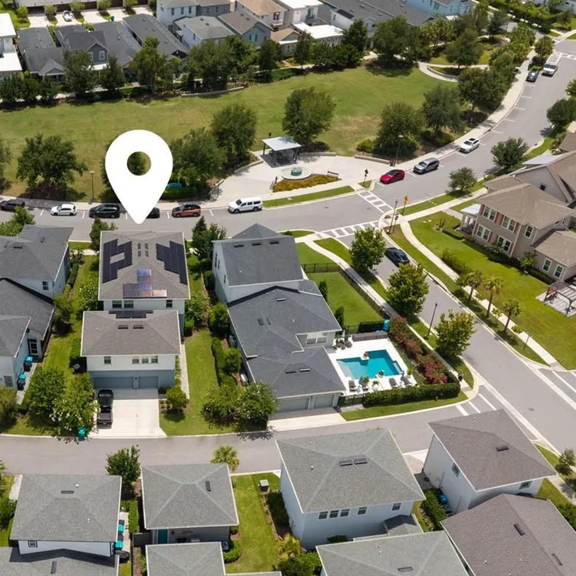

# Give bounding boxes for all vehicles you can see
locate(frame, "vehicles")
[379,168,406,182]
[88,202,120,217]
[382,247,412,266]
[228,196,262,213]
[64,12,72,21]
[543,57,557,72]
[172,204,200,217]
[95,389,114,427]
[50,203,77,216]
[456,137,482,153]
[0,196,28,211]
[412,157,441,172]
[526,70,538,80]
